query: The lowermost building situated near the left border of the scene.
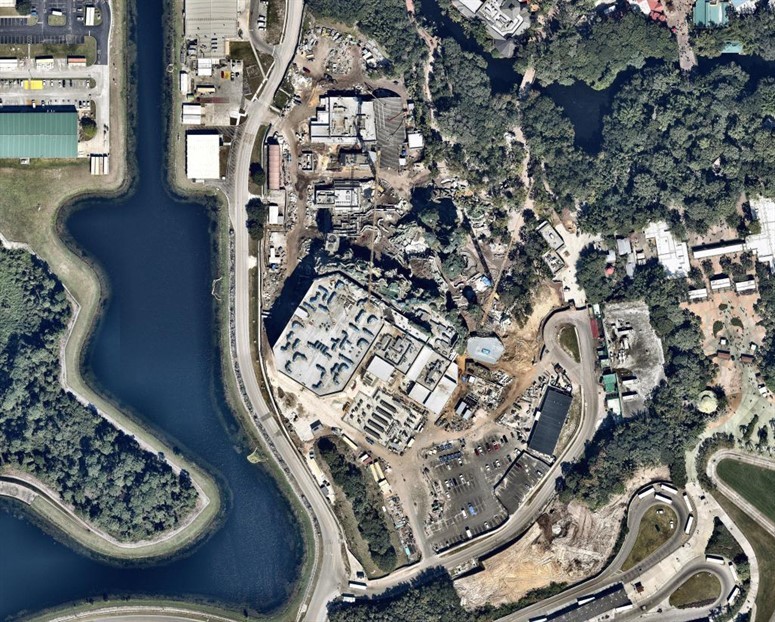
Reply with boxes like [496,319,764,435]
[0,111,78,158]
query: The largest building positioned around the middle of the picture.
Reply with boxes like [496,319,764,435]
[272,273,384,397]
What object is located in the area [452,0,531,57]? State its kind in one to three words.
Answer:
building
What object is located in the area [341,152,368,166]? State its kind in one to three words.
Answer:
building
